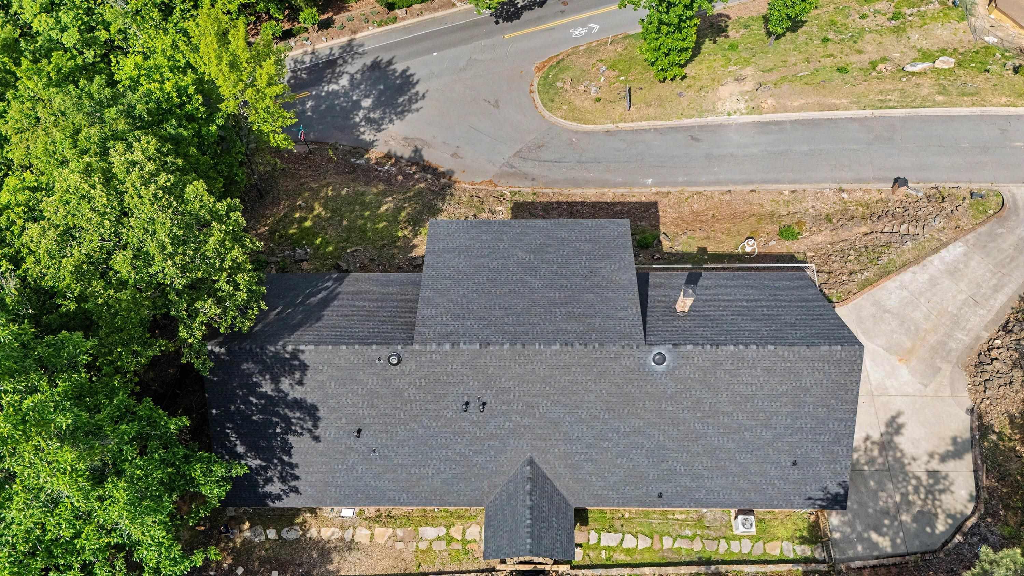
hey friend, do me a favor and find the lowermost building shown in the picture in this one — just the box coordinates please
[201,220,865,560]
